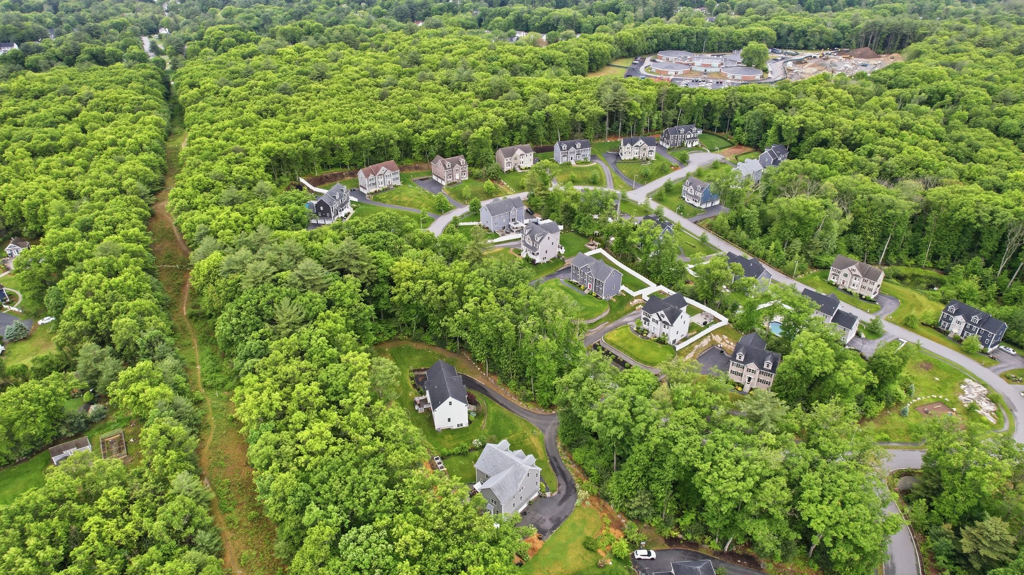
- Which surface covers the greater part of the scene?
trees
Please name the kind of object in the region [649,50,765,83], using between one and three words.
building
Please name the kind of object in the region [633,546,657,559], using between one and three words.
vehicle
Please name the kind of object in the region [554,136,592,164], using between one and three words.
house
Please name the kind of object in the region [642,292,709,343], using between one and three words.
house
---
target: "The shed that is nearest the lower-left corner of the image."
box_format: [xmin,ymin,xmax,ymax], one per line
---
[44,429,91,465]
